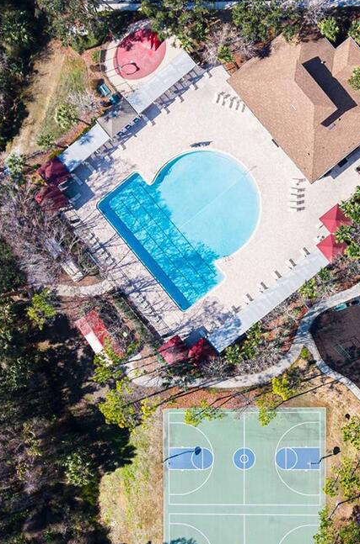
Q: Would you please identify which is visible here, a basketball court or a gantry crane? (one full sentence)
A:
The image shows a basketball court.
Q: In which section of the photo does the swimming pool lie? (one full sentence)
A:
The swimming pool is located in the center region of the scene.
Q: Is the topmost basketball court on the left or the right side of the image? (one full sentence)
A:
The topmost basketball court appears in the right half of the scene.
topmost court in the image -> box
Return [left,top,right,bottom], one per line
[163,408,325,510]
